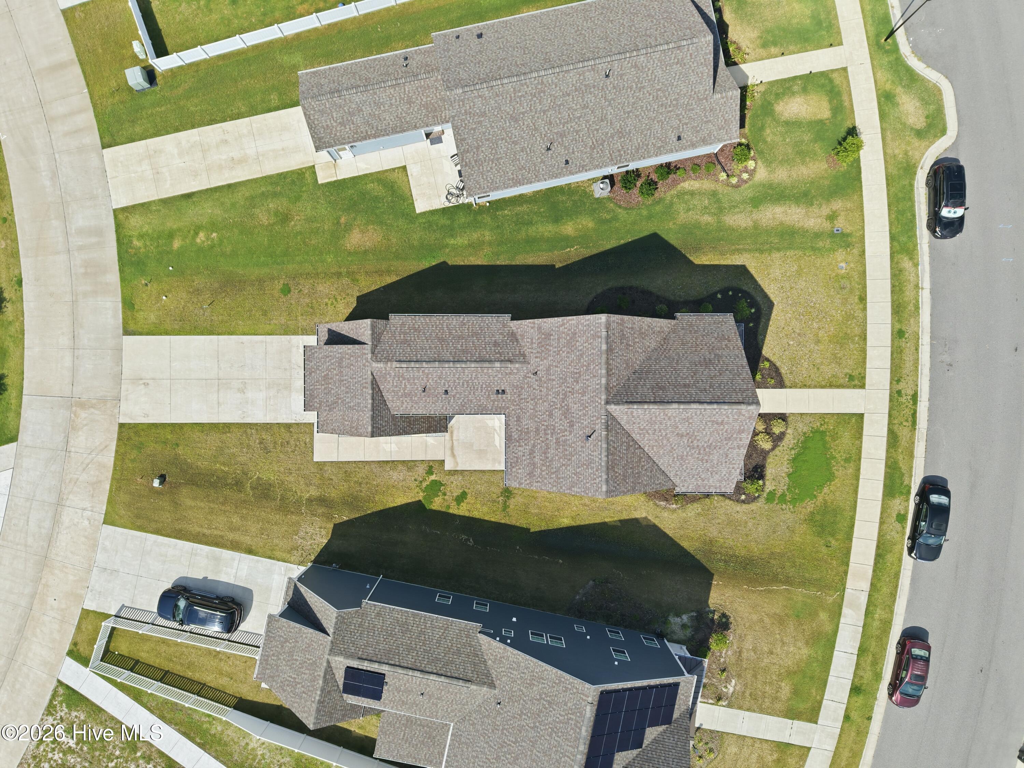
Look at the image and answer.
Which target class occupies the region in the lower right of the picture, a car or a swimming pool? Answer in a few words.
car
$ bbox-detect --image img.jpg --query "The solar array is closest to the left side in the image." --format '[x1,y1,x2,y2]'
[343,669,383,699]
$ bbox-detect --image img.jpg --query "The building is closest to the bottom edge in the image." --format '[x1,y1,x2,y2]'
[253,564,709,768]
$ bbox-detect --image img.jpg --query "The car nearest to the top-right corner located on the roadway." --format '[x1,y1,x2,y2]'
[925,163,968,240]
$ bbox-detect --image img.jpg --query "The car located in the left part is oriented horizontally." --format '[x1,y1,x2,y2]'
[157,586,240,635]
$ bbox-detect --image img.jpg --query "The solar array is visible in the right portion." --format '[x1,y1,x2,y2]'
[585,686,672,768]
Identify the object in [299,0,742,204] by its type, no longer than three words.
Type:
house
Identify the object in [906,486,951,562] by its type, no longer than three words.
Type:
car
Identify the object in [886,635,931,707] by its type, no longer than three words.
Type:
car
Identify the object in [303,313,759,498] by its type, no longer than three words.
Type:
house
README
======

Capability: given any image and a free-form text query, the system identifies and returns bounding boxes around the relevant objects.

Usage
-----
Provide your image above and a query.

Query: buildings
[303,313,759,498]
[299,0,742,204]
[253,564,709,768]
